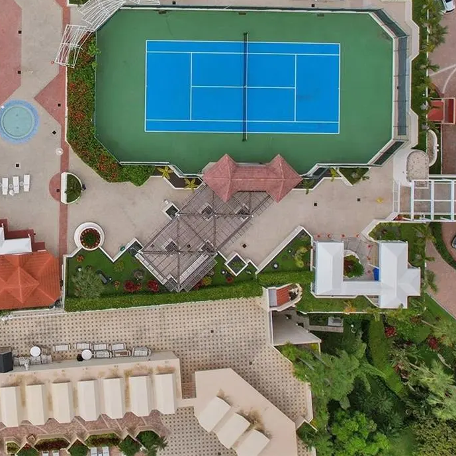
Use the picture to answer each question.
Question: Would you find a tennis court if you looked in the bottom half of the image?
No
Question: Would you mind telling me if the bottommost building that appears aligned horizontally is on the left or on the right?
left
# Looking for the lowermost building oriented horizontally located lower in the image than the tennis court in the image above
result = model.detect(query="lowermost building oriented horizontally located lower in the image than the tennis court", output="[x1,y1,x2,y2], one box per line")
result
[0,351,194,426]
